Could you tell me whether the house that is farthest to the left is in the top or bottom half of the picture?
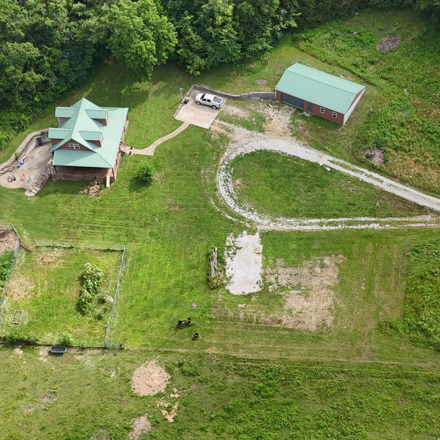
top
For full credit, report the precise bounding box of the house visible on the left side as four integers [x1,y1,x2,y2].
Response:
[49,97,132,192]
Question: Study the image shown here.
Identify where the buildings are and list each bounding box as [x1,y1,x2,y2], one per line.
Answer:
[274,58,365,125]
[49,97,132,192]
